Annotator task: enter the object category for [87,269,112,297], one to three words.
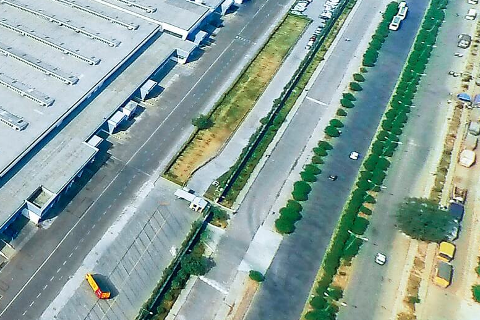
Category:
truck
